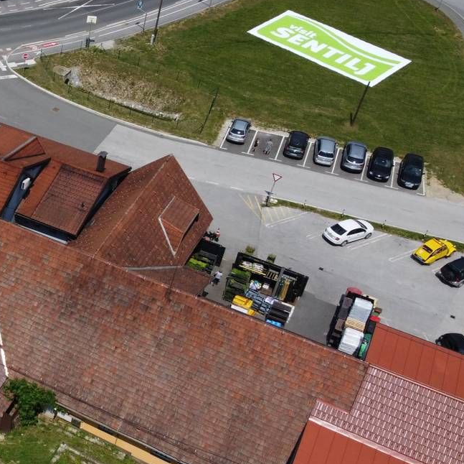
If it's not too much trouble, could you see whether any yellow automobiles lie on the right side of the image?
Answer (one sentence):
Yes, you'll find a yellow automobile on the right side of the image.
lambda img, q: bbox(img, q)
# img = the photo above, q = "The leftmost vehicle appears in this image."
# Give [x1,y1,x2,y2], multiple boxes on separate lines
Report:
[226,119,253,146]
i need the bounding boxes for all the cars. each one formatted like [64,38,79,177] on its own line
[226,119,253,146]
[412,327,464,355]
[285,134,312,160]
[365,150,393,184]
[396,155,424,188]
[436,259,464,290]
[338,142,368,173]
[322,220,374,250]
[310,139,337,169]
[412,239,461,268]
